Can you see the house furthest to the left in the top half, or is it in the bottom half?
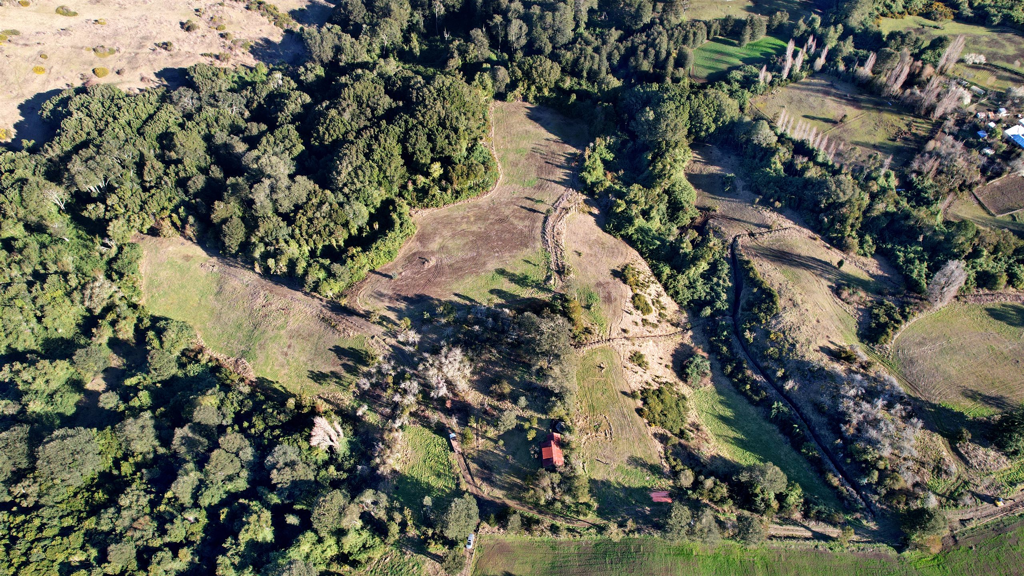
bottom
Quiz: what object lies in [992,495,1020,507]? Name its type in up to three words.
vehicle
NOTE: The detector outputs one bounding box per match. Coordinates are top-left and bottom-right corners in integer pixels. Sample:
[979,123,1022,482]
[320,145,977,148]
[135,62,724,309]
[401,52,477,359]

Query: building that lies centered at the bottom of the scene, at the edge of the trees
[543,431,563,467]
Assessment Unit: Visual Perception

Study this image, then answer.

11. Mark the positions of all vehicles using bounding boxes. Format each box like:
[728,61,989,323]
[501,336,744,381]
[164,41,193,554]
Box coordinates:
[992,495,1020,507]
[449,430,460,453]
[466,531,475,548]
